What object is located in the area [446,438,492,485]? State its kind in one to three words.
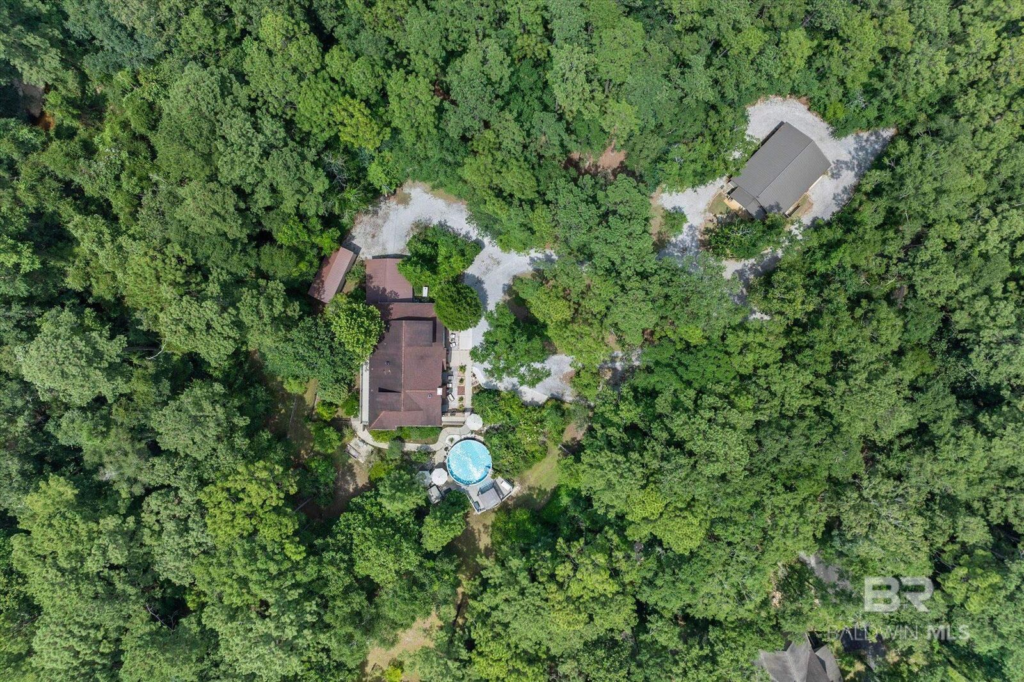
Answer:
swimming pool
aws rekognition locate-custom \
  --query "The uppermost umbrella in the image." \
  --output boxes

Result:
[466,413,483,430]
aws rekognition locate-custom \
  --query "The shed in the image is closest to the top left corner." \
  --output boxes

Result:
[308,245,354,301]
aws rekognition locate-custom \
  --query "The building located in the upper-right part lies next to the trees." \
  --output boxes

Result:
[723,122,831,220]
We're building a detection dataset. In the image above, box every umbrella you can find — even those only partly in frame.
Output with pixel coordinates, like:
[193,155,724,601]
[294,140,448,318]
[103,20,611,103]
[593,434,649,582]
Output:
[466,413,483,430]
[431,468,447,485]
[418,471,431,486]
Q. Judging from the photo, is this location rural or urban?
rural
